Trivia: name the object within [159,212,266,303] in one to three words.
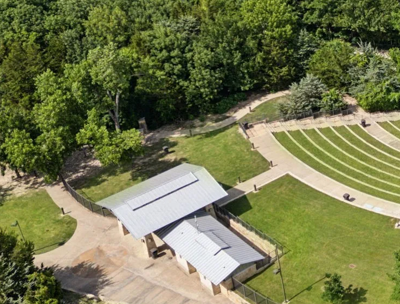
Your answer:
building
